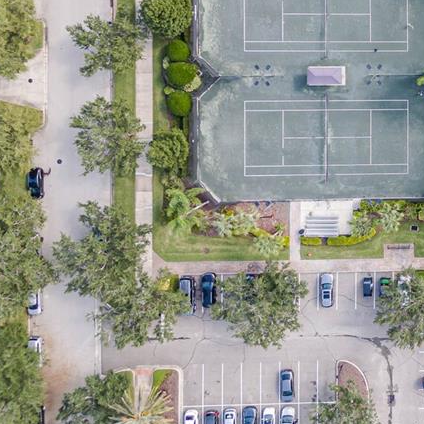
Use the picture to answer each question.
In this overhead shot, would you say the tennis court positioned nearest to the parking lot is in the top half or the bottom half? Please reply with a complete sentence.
It is in the top half that the tennis court positioned nearest to the parking lot appears.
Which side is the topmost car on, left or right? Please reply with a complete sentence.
The topmost car appears in the left half of the scene.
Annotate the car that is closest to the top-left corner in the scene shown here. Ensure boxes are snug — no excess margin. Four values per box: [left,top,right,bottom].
[28,167,51,197]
